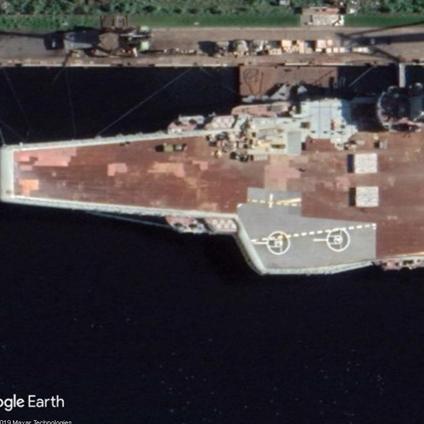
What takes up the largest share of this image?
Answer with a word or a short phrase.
water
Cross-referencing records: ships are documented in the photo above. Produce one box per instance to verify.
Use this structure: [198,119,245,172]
[239,67,339,102]
[0,81,424,276]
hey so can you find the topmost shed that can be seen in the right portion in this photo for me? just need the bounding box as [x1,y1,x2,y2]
[301,9,344,27]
